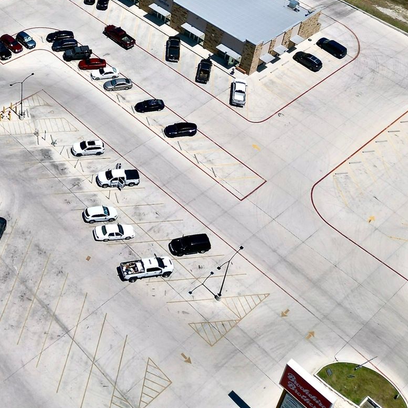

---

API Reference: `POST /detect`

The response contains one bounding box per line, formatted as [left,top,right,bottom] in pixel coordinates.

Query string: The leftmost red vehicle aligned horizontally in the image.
[77,59,108,72]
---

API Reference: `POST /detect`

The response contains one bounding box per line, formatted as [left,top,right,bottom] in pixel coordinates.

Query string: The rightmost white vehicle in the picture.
[229,81,247,108]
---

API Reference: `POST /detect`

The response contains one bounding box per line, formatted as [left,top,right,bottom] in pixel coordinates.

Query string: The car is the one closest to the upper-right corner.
[314,38,348,60]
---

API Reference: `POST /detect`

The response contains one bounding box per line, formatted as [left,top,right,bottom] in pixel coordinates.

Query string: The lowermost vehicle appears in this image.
[114,254,176,285]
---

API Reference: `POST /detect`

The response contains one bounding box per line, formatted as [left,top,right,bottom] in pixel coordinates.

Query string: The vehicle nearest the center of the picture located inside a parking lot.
[166,231,214,257]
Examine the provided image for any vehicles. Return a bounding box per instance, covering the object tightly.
[104,28,135,48]
[89,69,120,83]
[50,37,80,54]
[195,62,213,86]
[163,120,198,141]
[96,169,140,190]
[114,254,176,285]
[166,231,214,257]
[64,45,91,62]
[81,206,117,225]
[77,59,108,72]
[84,0,96,6]
[70,139,106,158]
[314,38,348,60]
[14,30,37,51]
[0,219,7,247]
[0,40,11,61]
[164,39,181,63]
[1,36,22,54]
[90,222,137,245]
[46,28,75,44]
[292,52,324,73]
[97,0,109,11]
[135,97,165,115]
[229,81,247,108]
[103,79,134,94]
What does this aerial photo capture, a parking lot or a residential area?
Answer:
parking lot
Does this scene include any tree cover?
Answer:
No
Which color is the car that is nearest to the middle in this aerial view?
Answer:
black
